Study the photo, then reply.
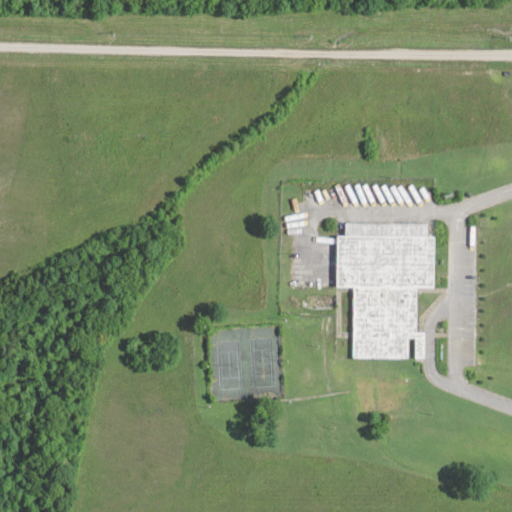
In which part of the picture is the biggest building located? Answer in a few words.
right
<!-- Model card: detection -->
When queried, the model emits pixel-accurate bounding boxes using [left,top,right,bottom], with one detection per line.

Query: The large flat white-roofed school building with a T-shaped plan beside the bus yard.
[336,223,436,360]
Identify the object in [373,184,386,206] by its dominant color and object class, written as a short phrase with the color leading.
white vehicle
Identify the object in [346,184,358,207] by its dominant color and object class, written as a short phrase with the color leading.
white vehicle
